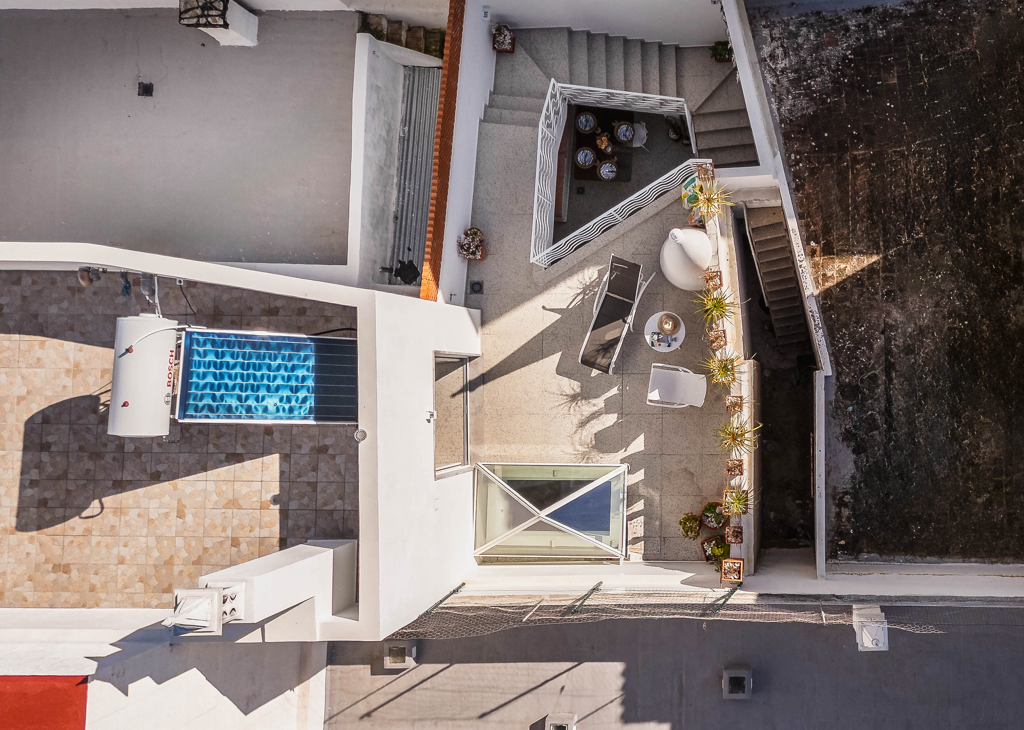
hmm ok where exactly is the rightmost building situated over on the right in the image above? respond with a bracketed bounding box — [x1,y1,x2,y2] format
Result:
[758,0,1024,574]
